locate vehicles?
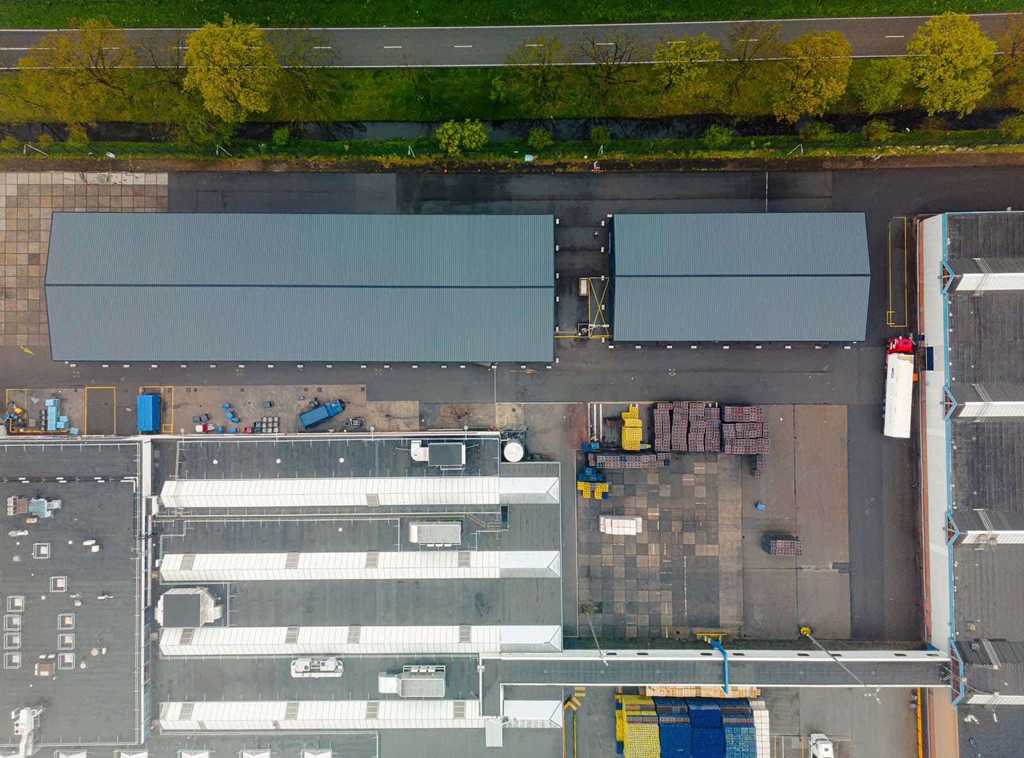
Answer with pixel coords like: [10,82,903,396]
[342,417,367,427]
[881,337,912,438]
[807,725,832,758]
[298,400,342,427]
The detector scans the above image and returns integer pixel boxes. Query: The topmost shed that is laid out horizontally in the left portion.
[44,211,555,363]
